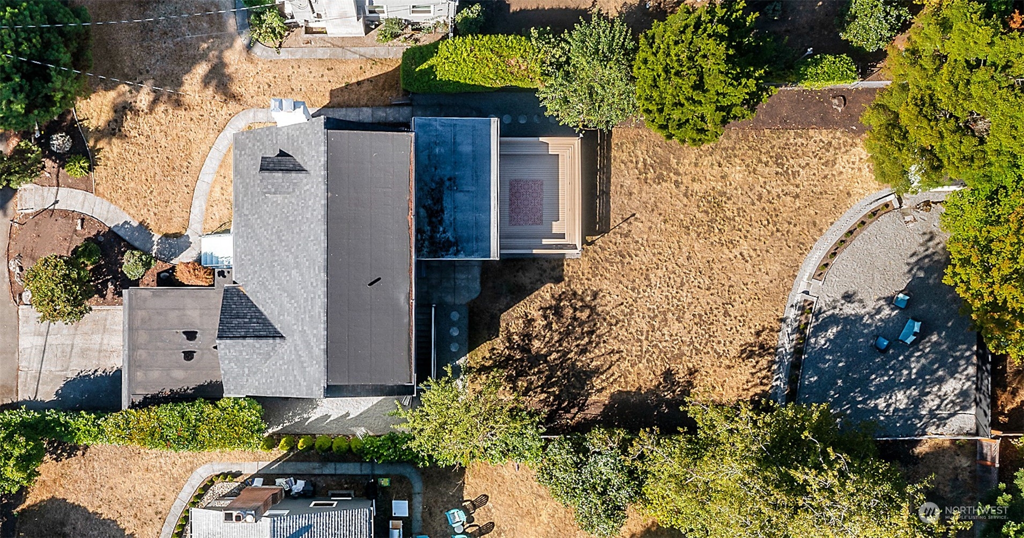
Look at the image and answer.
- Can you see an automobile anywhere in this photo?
No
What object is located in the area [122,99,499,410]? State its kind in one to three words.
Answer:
house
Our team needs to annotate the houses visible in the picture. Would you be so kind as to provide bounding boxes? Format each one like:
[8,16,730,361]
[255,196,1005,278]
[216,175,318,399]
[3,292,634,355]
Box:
[188,482,380,538]
[270,0,459,36]
[122,99,499,410]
